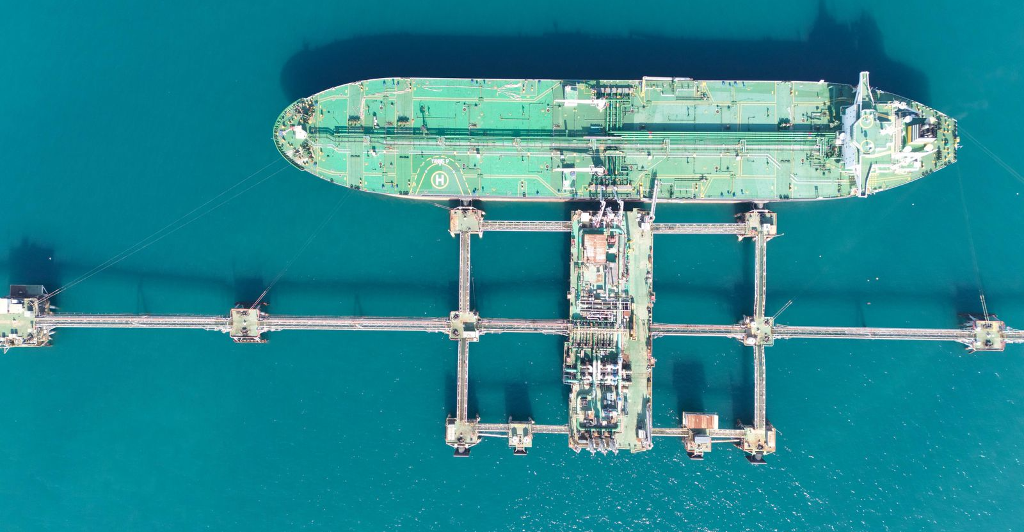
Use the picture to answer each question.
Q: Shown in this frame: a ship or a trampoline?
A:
ship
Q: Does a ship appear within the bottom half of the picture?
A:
No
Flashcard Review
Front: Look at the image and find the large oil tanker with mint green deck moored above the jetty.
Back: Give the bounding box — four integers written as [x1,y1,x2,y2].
[272,71,962,202]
